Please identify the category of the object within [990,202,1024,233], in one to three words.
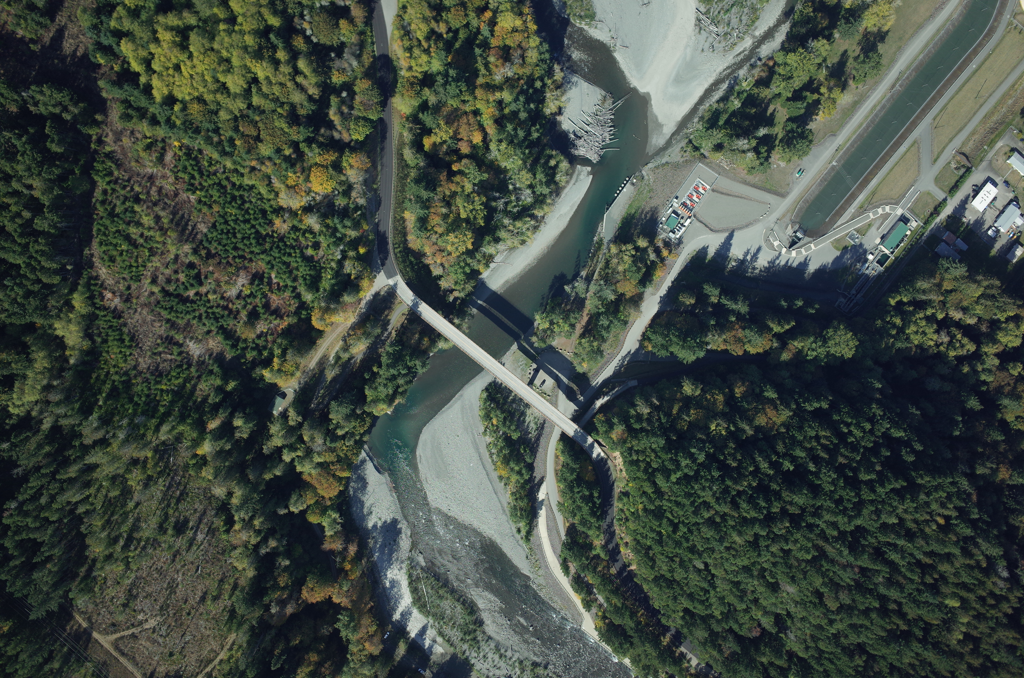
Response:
barn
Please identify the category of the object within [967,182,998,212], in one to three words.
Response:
building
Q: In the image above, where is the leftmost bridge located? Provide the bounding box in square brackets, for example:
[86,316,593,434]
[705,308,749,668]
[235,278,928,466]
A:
[386,271,603,459]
